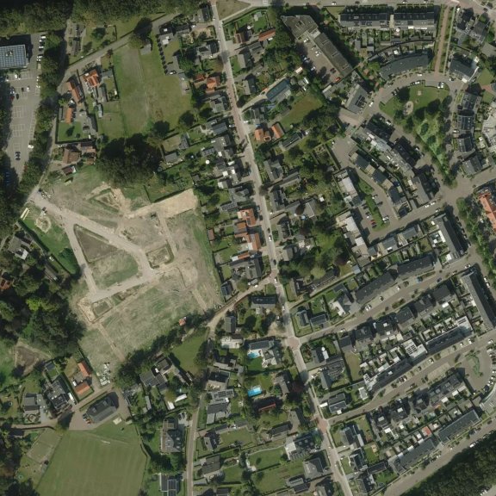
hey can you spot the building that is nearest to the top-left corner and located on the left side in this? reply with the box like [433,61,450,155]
[0,44,27,68]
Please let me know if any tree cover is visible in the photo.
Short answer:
Yes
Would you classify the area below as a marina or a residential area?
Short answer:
residential area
